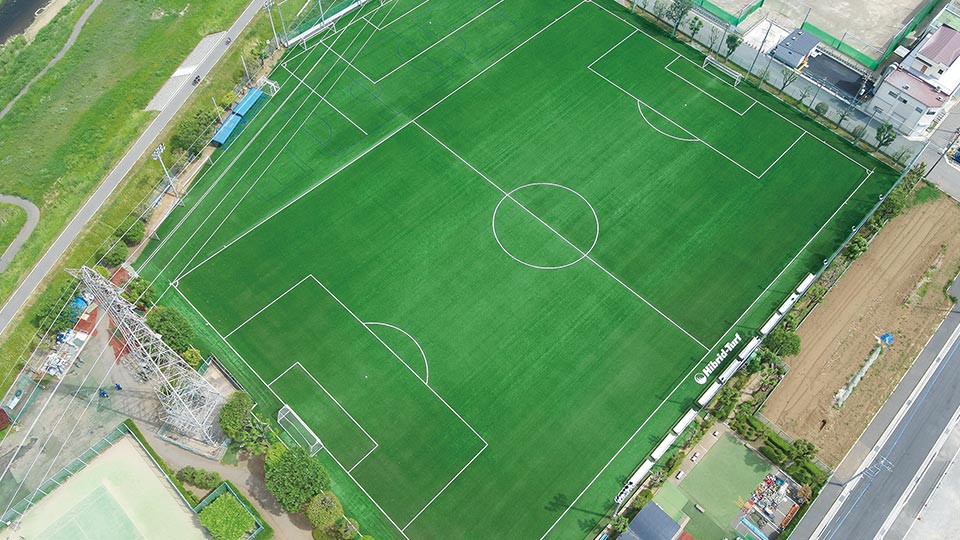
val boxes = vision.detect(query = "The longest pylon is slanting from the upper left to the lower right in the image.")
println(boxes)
[54,255,233,455]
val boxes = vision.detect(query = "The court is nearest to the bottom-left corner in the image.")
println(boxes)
[0,435,216,540]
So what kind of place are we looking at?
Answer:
sports ground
